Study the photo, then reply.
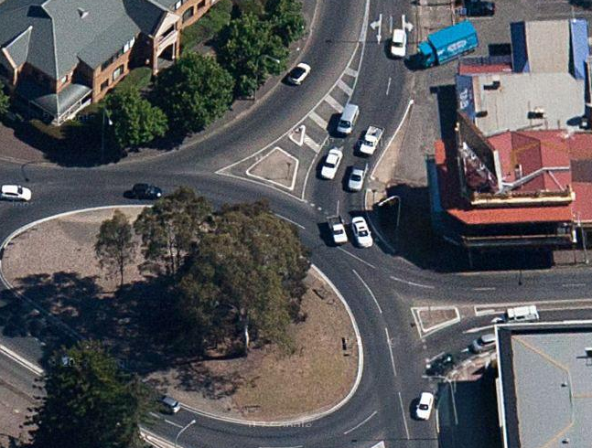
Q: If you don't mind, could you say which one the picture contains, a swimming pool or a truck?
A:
truck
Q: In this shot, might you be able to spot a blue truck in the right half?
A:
Yes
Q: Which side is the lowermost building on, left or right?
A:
right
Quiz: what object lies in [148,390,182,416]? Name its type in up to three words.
car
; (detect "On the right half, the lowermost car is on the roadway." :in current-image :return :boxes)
[415,391,435,423]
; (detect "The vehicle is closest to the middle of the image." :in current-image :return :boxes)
[326,213,347,247]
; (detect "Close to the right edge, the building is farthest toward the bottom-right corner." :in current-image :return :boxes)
[494,321,592,448]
